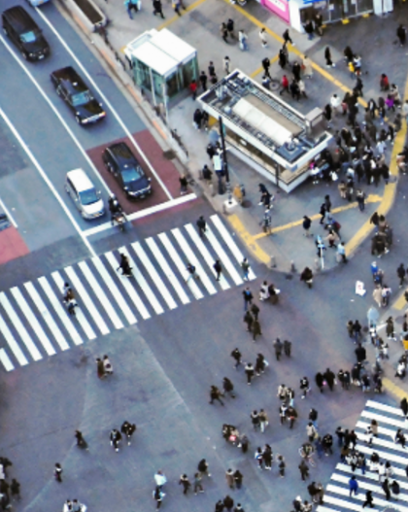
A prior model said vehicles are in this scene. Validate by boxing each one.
[0,0,52,61]
[111,207,124,228]
[49,60,106,124]
[60,158,106,216]
[98,132,154,198]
